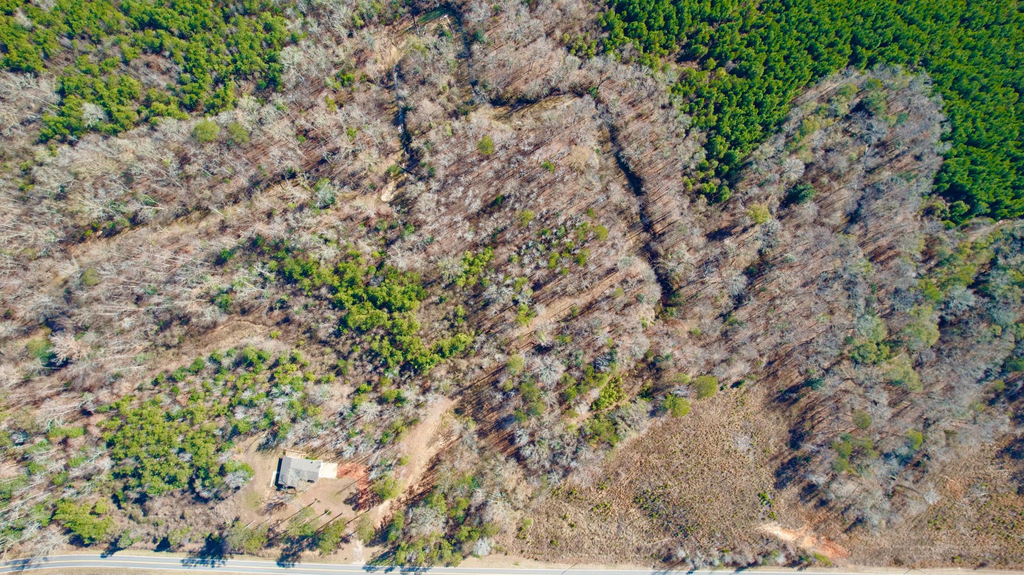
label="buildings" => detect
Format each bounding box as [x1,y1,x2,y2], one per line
[280,450,322,485]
